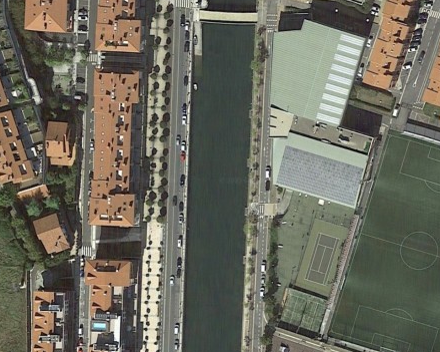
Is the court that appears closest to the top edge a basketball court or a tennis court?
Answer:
tennis court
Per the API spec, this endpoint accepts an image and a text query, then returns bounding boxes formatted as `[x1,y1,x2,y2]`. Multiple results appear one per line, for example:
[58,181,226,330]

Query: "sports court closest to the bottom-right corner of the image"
[299,294,326,334]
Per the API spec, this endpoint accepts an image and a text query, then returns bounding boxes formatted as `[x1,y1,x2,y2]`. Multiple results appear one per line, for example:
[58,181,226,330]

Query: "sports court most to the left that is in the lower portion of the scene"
[279,288,307,327]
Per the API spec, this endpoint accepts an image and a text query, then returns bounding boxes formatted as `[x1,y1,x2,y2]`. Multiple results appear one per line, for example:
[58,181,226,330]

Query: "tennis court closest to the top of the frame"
[294,218,350,296]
